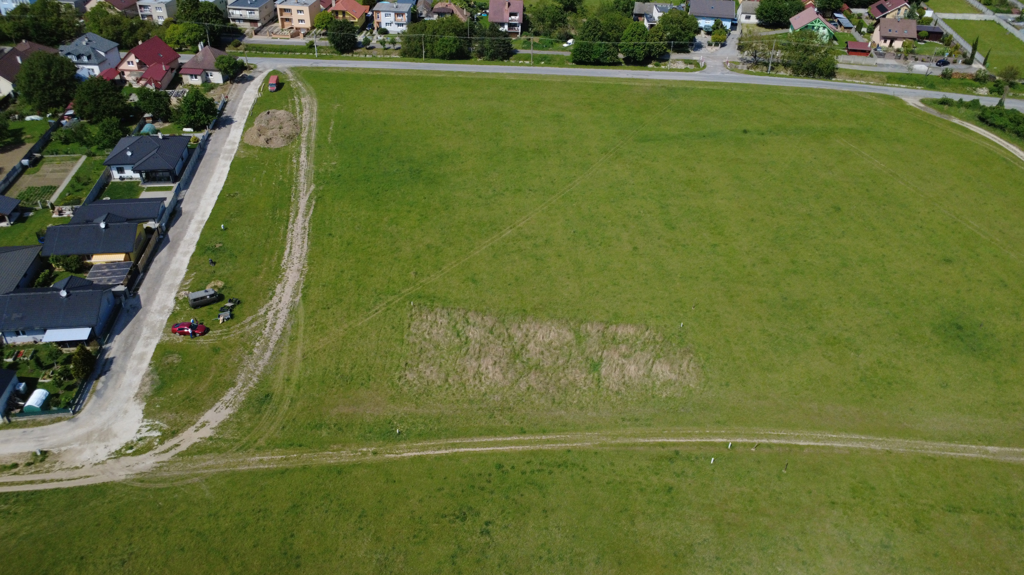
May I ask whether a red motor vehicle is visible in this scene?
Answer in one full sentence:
Yes, looking at the shot, I can spot a red motor vehicle.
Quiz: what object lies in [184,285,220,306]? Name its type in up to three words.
vehicle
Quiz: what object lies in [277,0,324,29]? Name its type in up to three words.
house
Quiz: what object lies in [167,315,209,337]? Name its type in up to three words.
car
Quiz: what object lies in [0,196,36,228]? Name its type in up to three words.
gazebo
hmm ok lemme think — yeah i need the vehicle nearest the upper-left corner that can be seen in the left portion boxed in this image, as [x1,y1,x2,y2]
[266,74,281,88]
